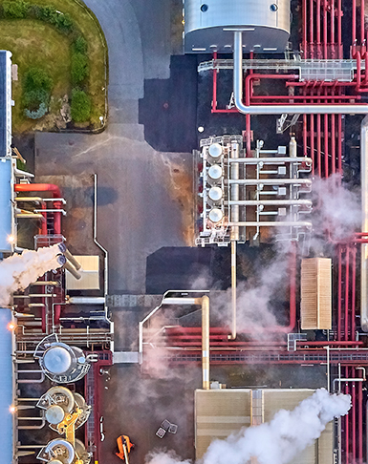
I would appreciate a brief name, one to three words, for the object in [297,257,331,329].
shed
